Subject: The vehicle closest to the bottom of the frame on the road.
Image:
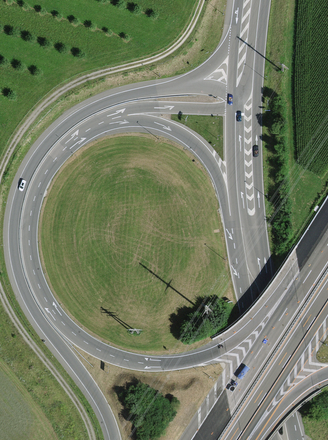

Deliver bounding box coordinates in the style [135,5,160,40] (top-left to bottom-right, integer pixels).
[233,363,250,386]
